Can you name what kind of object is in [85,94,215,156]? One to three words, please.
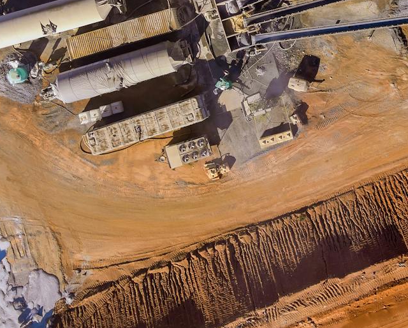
trailer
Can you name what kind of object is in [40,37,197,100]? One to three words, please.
silo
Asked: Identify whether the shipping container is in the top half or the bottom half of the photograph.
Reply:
top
